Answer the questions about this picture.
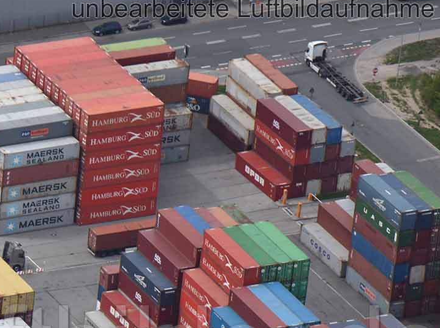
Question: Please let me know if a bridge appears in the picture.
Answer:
No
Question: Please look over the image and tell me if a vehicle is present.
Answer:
Yes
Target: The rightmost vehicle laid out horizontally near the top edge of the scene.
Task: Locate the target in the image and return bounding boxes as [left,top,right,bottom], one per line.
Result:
[160,10,191,24]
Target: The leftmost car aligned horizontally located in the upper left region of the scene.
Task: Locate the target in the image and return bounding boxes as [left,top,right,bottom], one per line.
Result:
[92,18,123,33]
